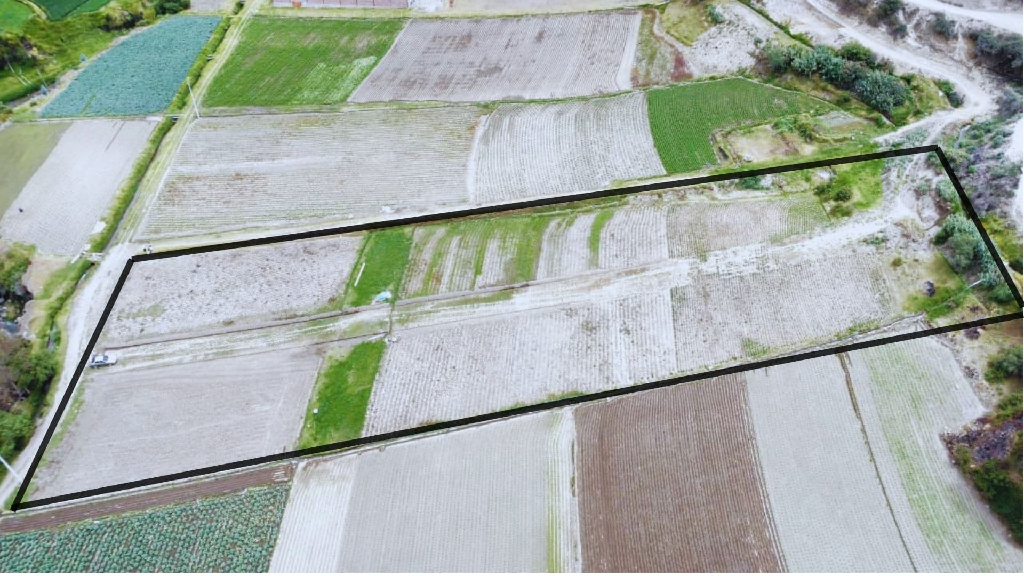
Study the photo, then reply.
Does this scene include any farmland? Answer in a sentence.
Yes, there's farmland in this view.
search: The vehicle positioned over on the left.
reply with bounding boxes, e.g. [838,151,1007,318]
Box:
[88,355,117,368]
